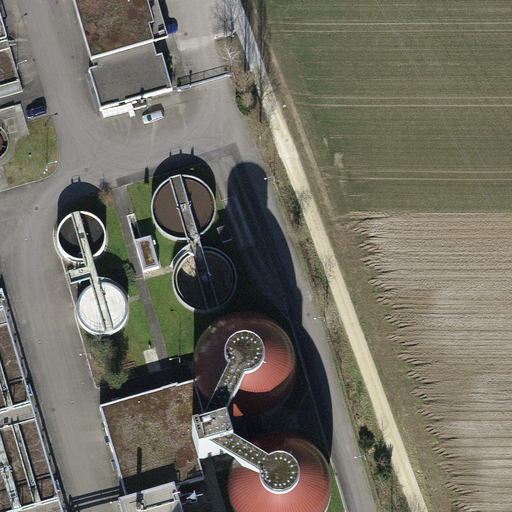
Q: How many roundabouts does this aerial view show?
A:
zero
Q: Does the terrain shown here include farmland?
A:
Yes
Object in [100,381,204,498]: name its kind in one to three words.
building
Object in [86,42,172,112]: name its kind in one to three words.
building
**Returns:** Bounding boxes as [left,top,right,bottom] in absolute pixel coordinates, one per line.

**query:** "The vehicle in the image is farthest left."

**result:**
[26,106,47,120]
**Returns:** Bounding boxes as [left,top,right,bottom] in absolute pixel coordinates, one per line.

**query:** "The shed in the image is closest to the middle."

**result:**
[136,235,159,272]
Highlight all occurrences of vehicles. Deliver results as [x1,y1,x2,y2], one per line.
[26,106,47,120]
[142,110,165,124]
